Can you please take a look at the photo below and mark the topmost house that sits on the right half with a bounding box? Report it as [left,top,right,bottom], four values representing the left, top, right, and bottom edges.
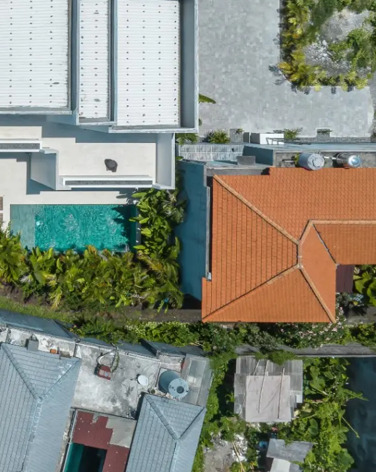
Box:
[182,166,376,324]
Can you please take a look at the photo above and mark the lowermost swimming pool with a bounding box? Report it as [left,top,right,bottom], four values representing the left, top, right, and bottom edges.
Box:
[9,205,136,253]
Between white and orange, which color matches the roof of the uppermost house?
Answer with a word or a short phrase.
orange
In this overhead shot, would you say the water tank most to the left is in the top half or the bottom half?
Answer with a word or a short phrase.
bottom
